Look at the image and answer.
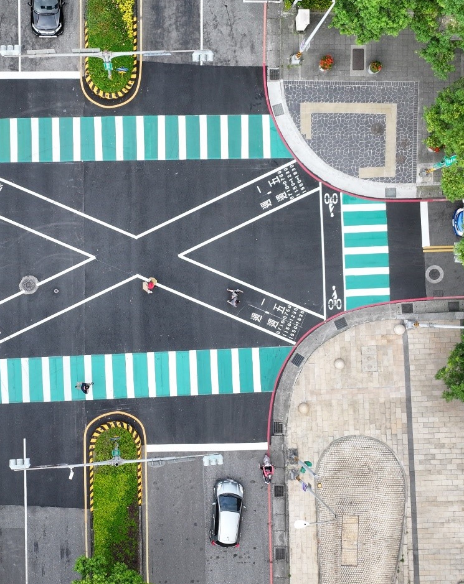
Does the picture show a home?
No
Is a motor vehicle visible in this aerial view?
Yes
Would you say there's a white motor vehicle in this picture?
Yes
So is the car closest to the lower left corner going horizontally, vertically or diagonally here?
vertically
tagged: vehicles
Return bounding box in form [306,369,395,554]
[262,454,279,486]
[209,475,246,549]
[453,208,464,235]
[28,0,67,35]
